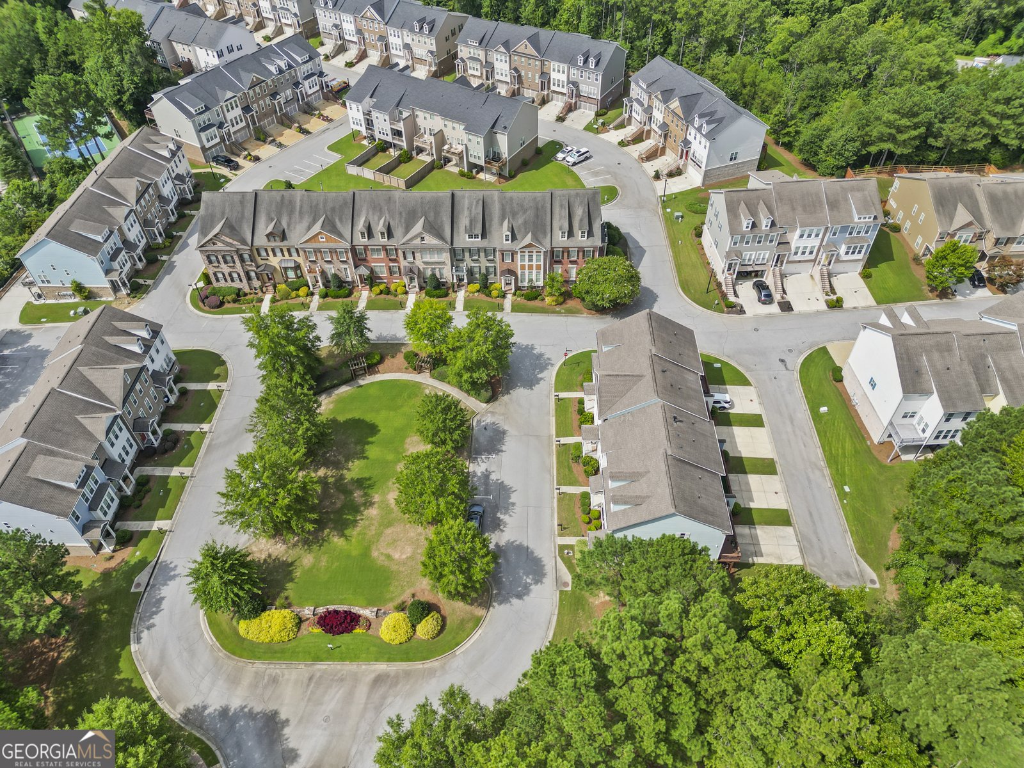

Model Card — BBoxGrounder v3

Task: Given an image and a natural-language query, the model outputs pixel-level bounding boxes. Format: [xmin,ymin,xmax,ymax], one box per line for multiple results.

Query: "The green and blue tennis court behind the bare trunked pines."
[13,109,123,182]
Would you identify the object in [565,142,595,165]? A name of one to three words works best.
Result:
car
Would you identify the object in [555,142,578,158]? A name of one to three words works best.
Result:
car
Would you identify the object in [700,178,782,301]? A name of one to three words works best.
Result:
house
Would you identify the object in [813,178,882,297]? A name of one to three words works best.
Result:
house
